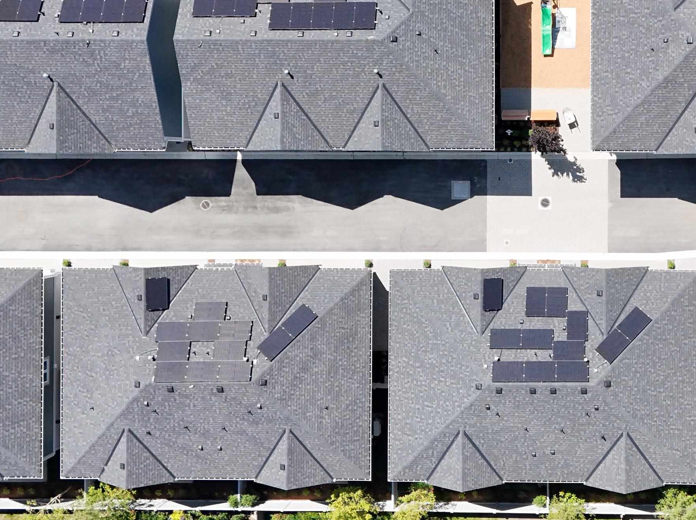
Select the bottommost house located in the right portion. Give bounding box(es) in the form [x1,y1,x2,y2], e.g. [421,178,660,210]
[390,262,696,492]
